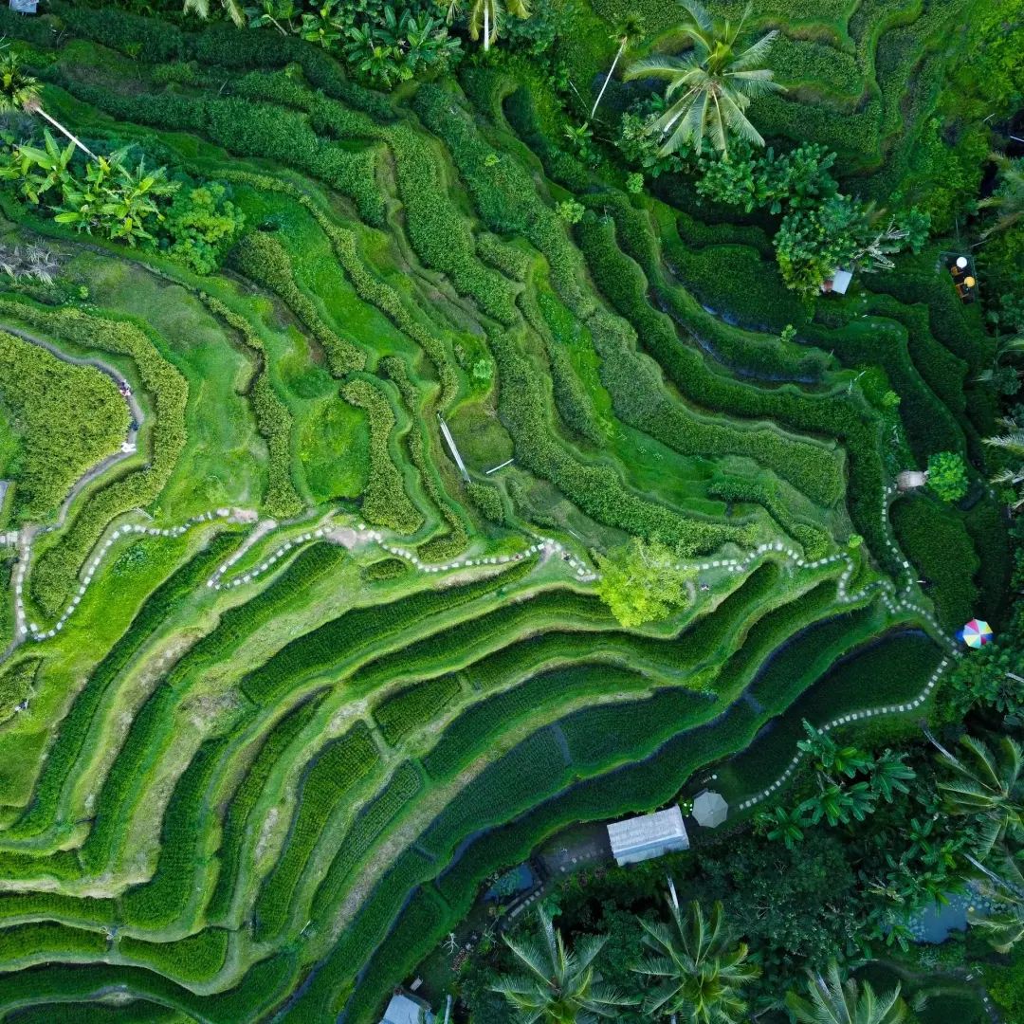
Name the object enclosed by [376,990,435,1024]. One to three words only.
shed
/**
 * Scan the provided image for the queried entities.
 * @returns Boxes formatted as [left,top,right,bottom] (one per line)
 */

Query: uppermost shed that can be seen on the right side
[822,269,853,298]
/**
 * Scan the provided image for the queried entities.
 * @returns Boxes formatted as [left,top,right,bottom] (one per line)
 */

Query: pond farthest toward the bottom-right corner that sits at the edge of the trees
[891,879,1024,943]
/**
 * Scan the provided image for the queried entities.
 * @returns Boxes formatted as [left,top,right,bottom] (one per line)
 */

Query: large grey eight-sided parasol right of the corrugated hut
[693,791,729,827]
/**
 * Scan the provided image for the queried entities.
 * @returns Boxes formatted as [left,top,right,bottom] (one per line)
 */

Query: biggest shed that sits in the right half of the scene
[607,802,690,867]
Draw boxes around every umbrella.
[693,791,729,827]
[959,617,992,648]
